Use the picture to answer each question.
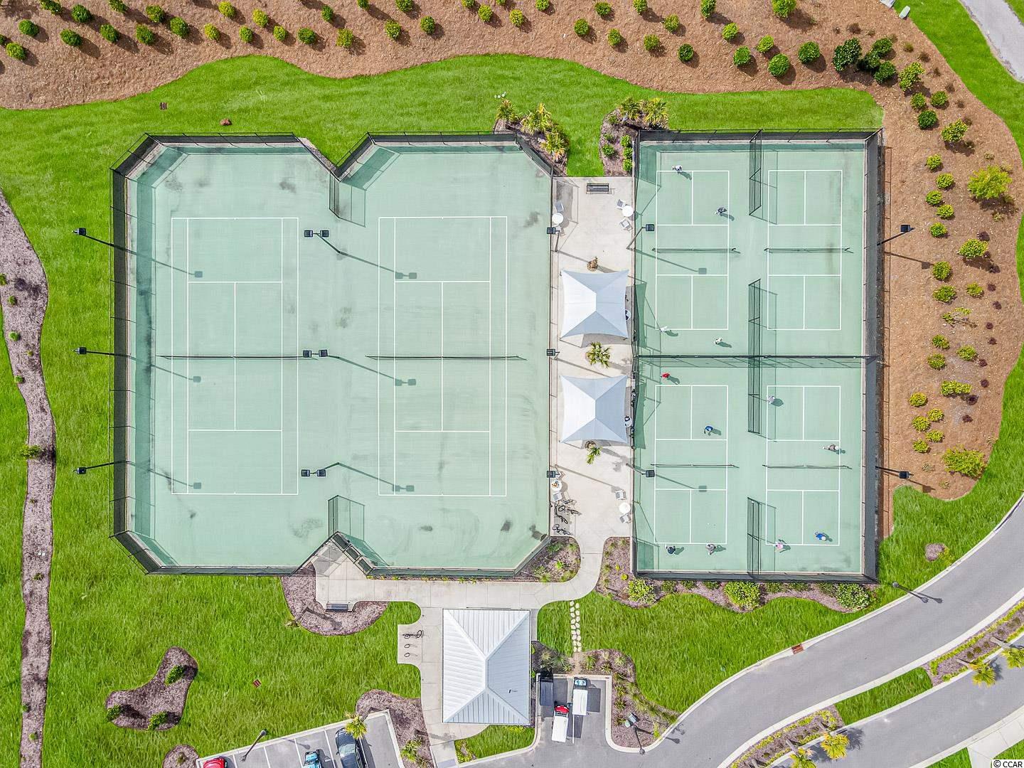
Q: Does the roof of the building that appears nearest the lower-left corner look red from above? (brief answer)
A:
No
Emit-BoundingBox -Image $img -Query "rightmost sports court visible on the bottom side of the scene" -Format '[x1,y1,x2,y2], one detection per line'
[748,358,861,570]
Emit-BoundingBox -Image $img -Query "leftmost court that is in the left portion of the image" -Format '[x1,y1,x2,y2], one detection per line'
[131,147,340,565]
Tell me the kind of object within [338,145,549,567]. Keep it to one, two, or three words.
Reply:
tennis court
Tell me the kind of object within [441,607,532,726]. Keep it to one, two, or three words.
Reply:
building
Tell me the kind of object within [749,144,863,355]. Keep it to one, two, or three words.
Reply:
sports court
